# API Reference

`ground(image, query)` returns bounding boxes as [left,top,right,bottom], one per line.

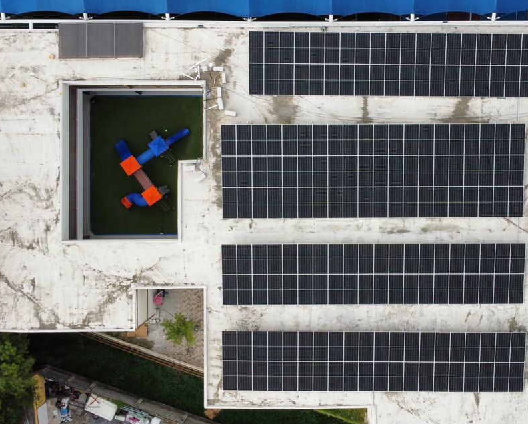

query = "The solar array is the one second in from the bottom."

[222,244,526,304]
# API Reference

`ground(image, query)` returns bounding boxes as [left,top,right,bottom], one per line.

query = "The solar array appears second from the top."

[222,124,526,218]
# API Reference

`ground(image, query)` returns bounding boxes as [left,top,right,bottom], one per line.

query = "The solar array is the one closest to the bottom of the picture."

[223,331,526,392]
